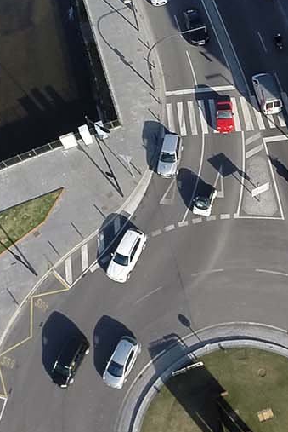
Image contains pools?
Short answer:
No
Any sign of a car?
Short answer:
Yes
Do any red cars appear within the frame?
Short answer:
Yes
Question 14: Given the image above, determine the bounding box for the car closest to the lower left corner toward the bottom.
[51,332,92,388]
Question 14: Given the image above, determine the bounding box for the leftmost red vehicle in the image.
[214,92,236,132]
